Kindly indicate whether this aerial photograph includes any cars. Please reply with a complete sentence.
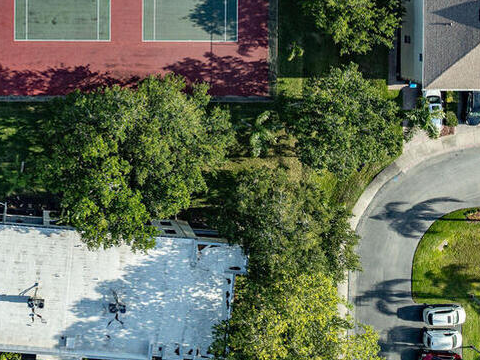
Yes, the frame does contain a car.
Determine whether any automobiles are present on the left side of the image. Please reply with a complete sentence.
No, no automobile is visible on the left side of the image.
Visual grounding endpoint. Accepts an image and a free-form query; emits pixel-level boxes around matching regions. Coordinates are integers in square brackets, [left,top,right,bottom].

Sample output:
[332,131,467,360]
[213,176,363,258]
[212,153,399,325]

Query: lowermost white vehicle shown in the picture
[426,331,465,353]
